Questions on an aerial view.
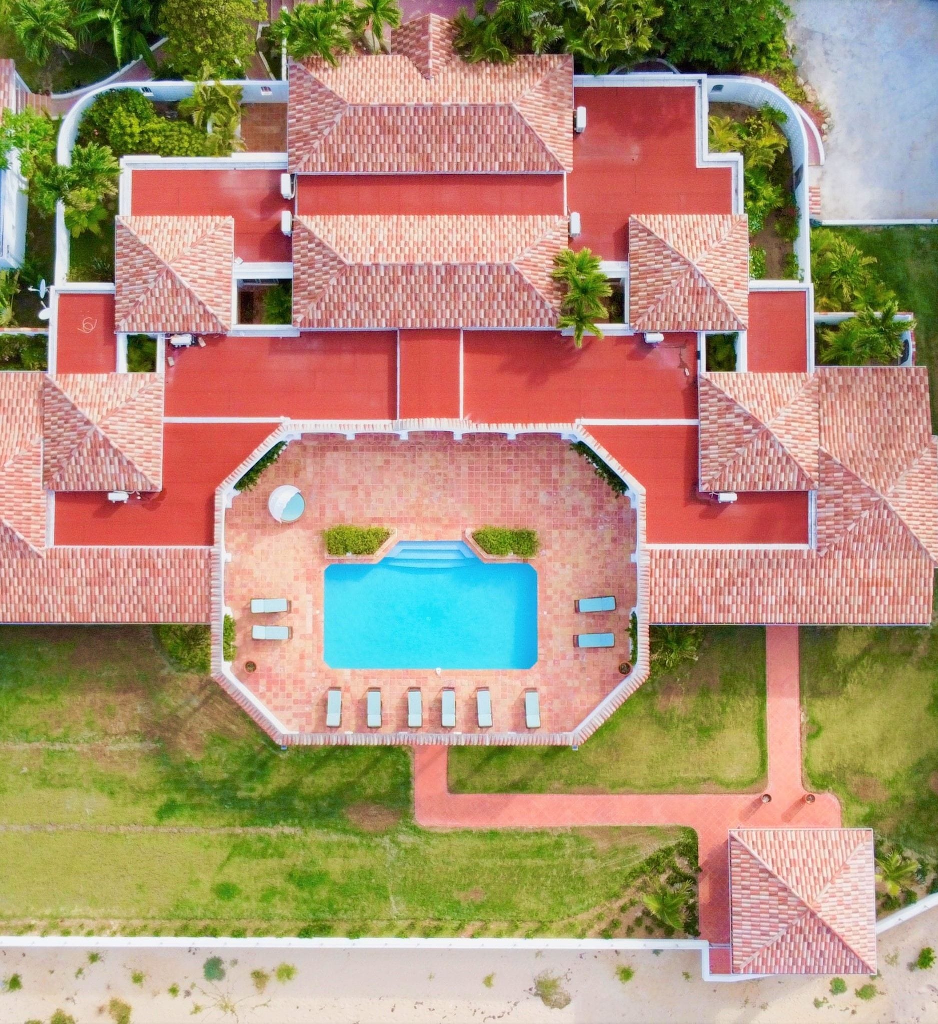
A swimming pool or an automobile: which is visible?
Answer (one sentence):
Of the two, only a swimming pool appears.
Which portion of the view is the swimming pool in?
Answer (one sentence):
The swimming pool appears toward the center of the photo.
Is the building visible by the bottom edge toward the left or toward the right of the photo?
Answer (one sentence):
The building visible by the bottom edge is on the right side of the image.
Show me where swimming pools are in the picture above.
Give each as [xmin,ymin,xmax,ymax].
[323,540,538,670]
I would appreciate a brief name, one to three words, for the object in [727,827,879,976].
building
